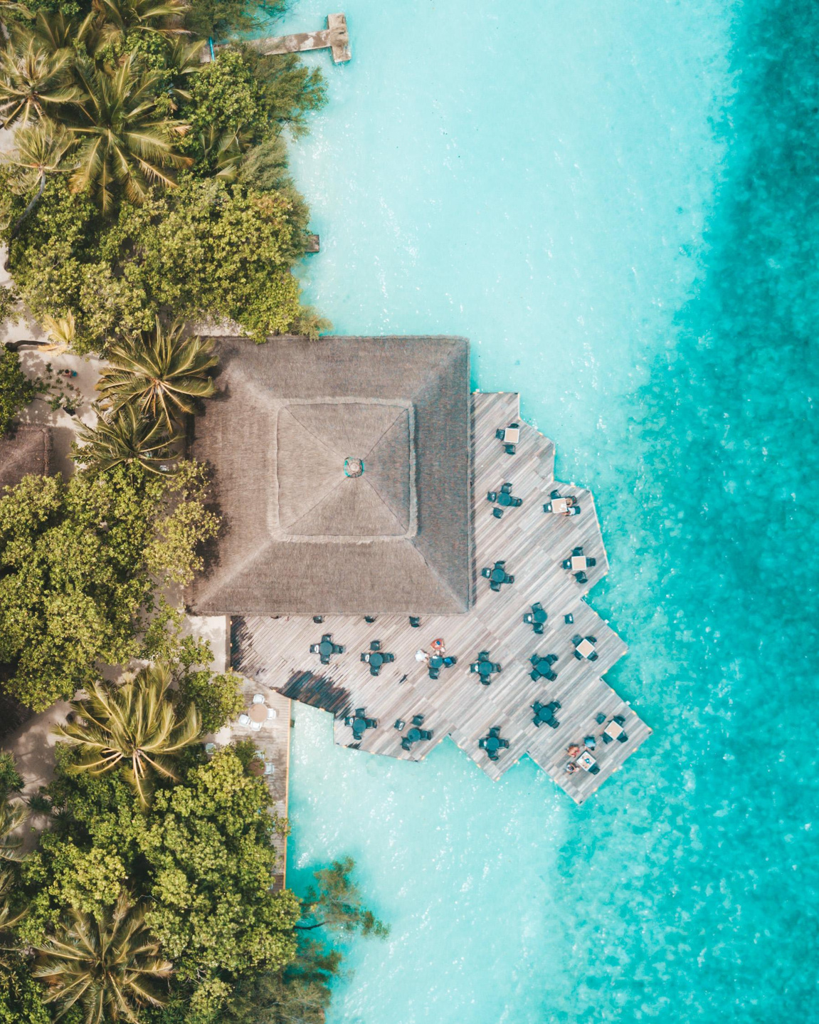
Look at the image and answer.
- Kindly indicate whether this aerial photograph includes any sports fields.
No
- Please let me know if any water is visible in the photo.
Yes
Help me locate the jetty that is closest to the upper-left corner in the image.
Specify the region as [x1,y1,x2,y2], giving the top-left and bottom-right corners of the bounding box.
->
[194,13,351,68]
